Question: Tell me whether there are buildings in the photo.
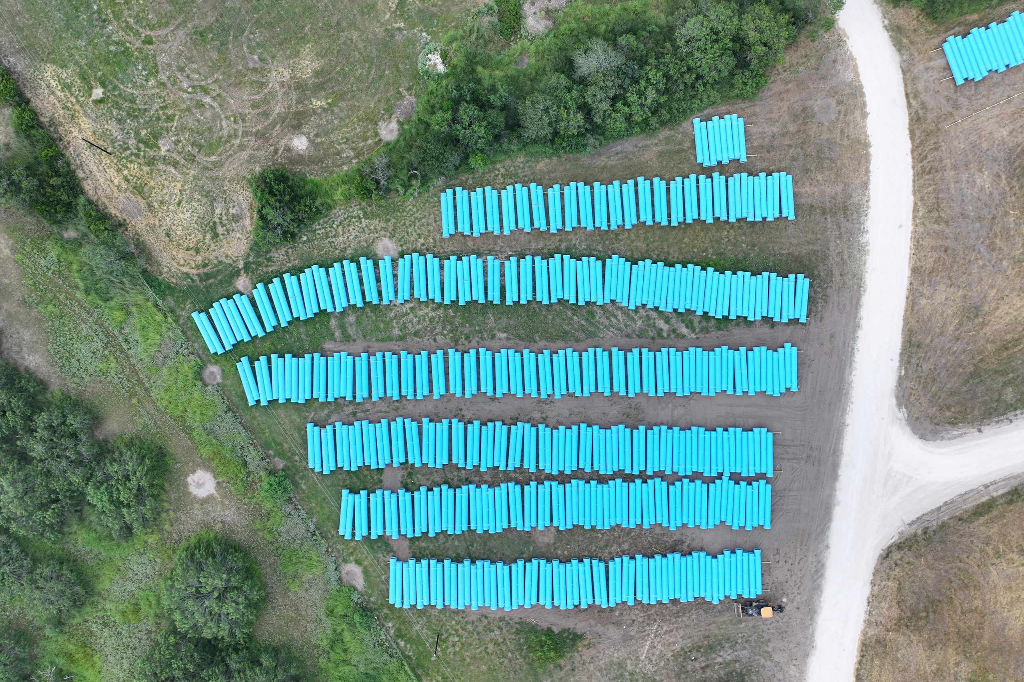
No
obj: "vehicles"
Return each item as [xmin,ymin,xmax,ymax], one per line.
[733,599,787,620]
